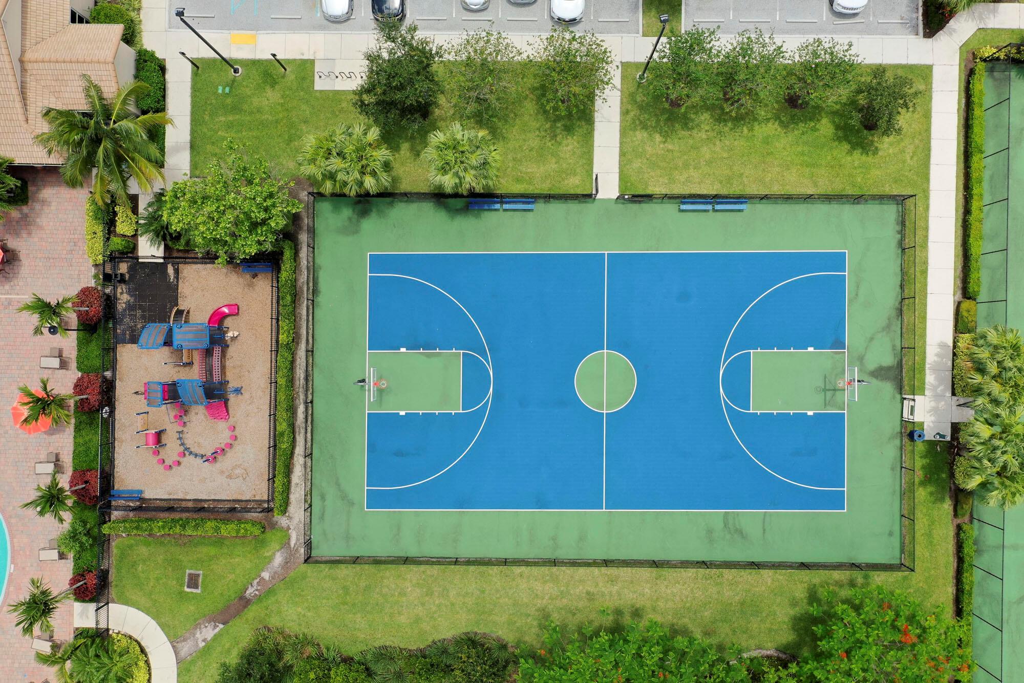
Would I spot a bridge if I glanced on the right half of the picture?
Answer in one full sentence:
No, I can find no bridge on the right half of the picture.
